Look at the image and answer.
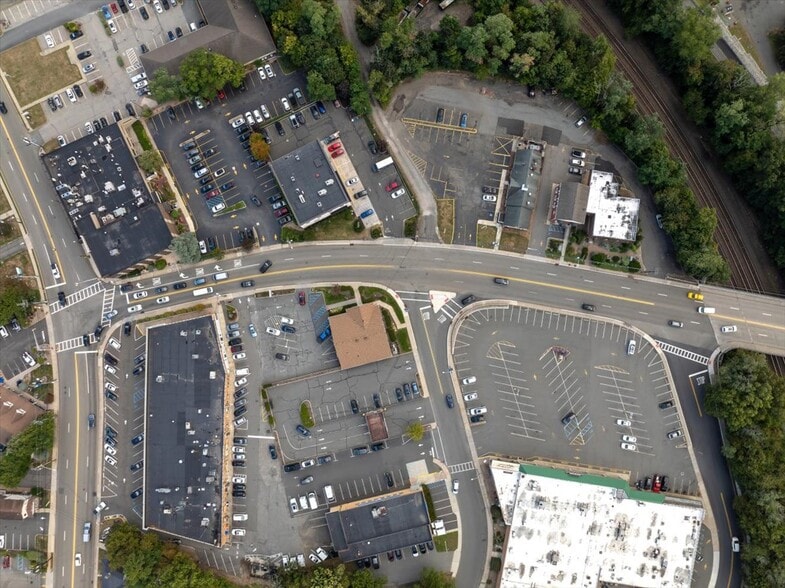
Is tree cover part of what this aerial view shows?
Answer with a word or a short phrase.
Yes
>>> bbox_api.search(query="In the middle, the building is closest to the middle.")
[329,303,392,370]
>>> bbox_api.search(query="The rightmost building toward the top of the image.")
[585,170,640,242]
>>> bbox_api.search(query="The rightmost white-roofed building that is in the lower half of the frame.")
[488,460,703,588]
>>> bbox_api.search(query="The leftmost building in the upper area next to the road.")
[41,122,179,278]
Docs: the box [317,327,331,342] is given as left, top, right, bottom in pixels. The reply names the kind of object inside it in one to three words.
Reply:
vehicle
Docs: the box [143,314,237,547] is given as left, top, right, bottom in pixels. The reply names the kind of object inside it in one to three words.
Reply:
building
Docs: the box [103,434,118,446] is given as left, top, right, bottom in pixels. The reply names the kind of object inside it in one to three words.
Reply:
vehicle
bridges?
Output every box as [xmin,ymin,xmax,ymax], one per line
[690,280,785,356]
